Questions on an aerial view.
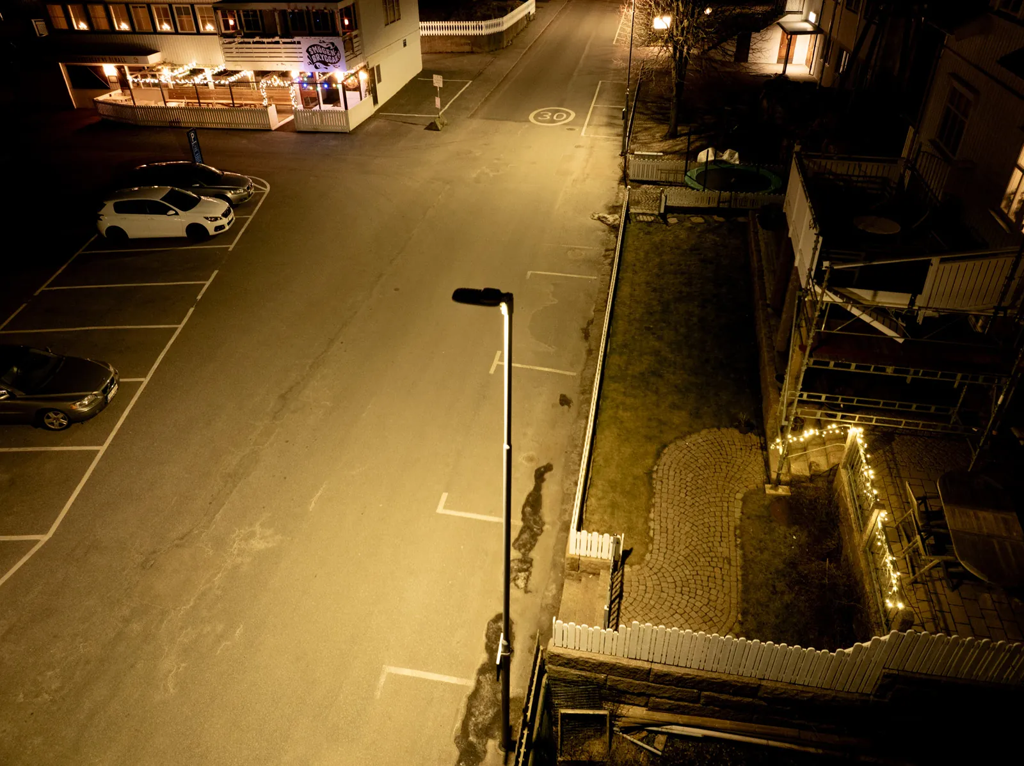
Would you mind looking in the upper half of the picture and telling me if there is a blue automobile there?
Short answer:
No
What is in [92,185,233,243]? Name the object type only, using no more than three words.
car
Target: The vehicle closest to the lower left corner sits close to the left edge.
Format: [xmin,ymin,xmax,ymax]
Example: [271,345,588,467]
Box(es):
[0,341,119,431]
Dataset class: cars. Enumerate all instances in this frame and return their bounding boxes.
[120,154,259,205]
[0,341,119,431]
[92,185,233,243]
